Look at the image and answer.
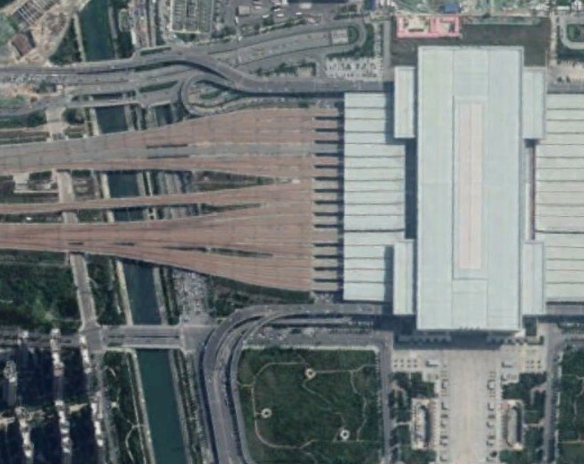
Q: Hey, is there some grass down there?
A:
Yes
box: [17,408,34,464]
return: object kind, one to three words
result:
building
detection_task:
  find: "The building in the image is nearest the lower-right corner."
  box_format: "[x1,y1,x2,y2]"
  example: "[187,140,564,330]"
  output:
[504,399,522,451]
